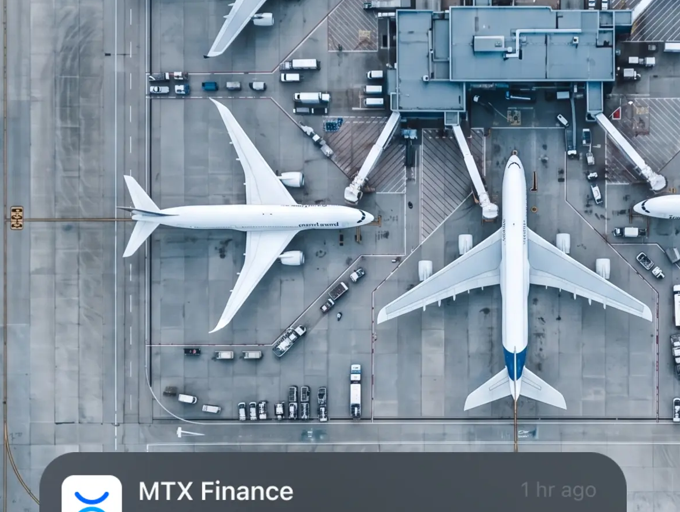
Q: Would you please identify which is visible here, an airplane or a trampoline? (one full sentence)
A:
The one in the frame is an airplane.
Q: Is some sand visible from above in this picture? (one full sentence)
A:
No, there is no sand in the image.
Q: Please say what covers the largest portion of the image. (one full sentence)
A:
For the most part, this view shows paved ground.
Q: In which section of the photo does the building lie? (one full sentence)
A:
The building is in the top right part of the image.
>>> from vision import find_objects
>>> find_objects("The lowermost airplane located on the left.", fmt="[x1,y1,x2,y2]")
[120,100,373,333]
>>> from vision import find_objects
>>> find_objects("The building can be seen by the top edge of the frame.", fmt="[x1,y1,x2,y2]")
[385,0,633,130]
